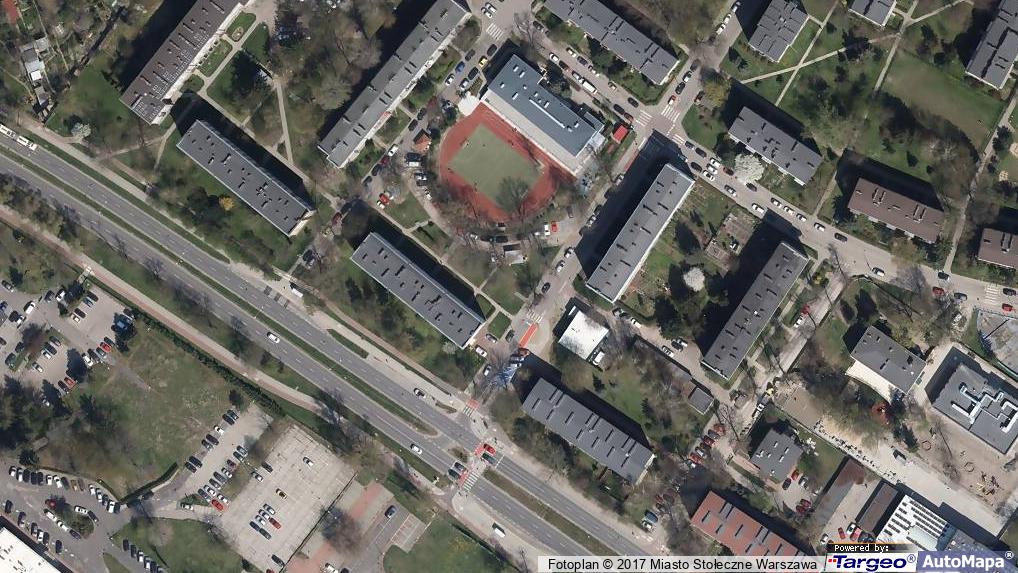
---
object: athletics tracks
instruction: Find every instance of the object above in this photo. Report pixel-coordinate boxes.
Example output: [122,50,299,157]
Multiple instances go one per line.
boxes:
[439,101,576,222]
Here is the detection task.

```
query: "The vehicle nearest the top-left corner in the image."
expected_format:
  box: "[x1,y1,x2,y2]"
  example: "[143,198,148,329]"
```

[0,121,40,152]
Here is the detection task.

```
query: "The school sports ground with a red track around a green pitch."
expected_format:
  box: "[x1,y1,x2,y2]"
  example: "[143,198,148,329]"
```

[439,101,576,222]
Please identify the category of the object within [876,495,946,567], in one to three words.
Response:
building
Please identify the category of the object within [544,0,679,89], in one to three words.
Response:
building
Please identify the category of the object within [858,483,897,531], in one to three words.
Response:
shed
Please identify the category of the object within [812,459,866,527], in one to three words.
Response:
shed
